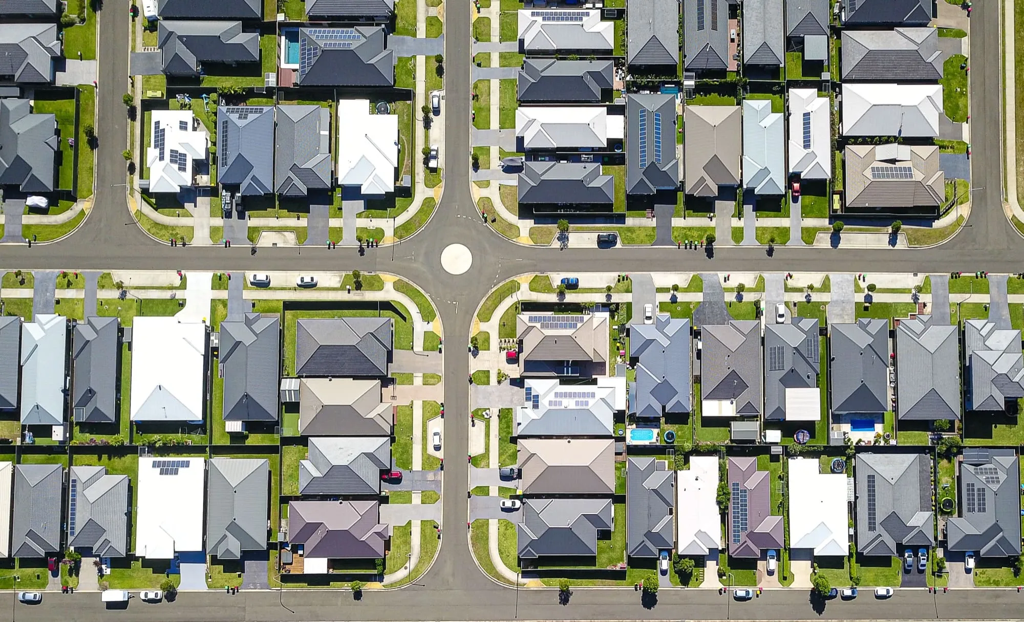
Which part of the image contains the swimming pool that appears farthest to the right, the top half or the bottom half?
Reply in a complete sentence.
It is in the bottom half that the swimming pool that appears farthest to the right appears.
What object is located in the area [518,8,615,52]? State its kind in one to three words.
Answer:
house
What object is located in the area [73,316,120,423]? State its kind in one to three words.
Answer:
house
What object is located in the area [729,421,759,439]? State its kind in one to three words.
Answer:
shed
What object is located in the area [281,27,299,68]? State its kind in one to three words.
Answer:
swimming pool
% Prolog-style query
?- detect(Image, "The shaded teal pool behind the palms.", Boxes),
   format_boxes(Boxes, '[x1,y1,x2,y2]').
[656,83,680,100]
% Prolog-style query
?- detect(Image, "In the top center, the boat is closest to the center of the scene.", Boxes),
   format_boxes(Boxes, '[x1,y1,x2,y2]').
[497,156,525,168]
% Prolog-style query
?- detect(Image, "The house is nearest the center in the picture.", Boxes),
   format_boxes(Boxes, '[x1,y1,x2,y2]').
[517,311,609,378]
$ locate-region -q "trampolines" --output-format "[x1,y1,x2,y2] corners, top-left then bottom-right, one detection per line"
[1005,400,1024,416]
[831,459,845,472]
[374,98,389,114]
[794,429,811,444]
[664,430,676,442]
[941,498,958,511]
